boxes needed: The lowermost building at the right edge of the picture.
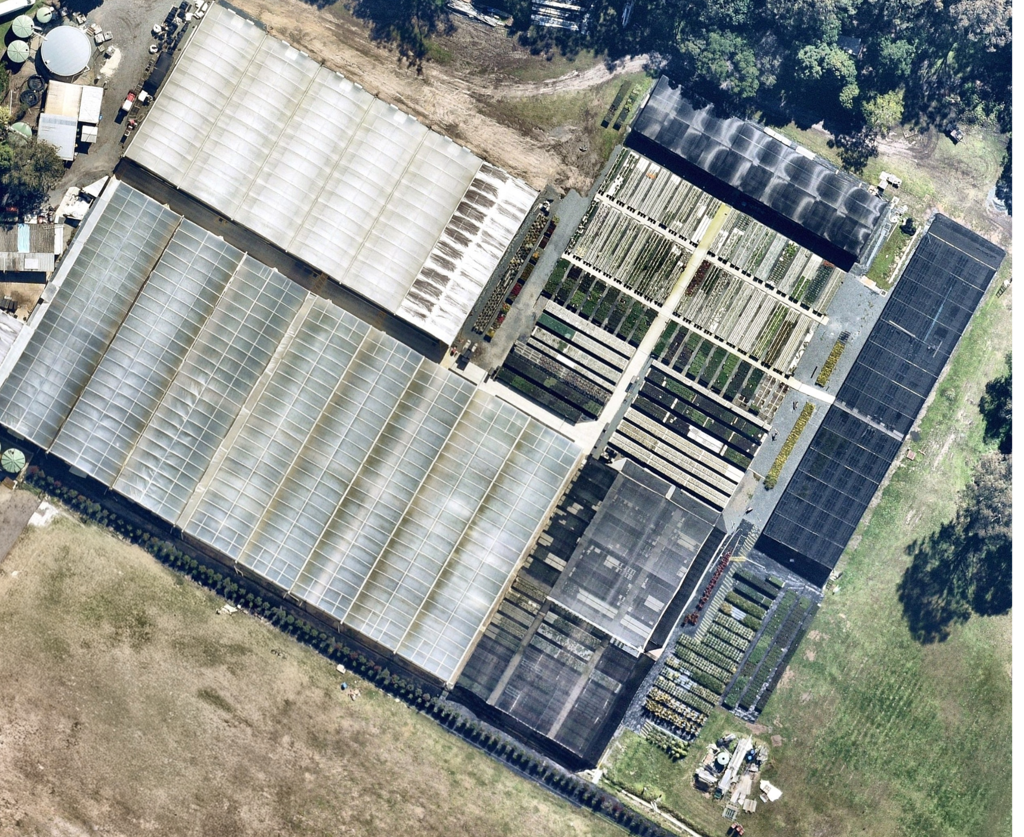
[762,221,1002,573]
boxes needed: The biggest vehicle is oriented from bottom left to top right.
[119,90,138,114]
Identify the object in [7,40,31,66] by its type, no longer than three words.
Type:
water tank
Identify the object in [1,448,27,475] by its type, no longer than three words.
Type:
water tank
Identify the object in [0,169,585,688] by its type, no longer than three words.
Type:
greenhouse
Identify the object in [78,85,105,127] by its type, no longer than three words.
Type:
shed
